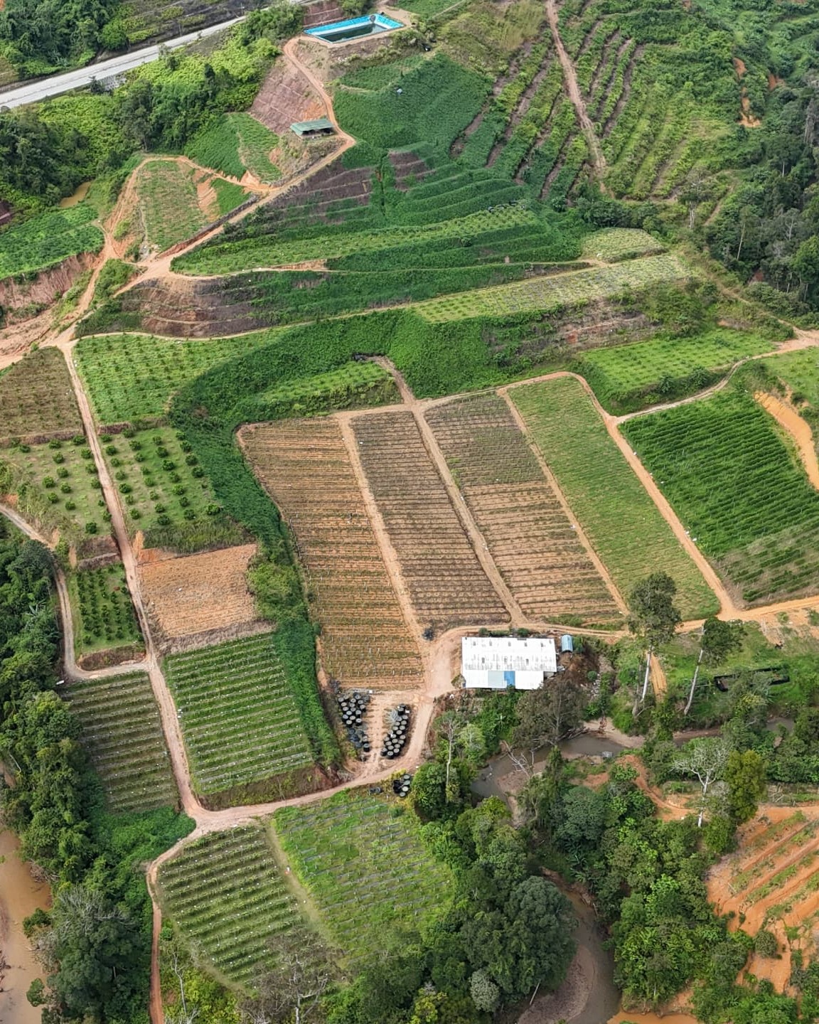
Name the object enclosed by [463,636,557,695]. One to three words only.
shed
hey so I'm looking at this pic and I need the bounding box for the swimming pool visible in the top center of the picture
[304,14,404,43]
